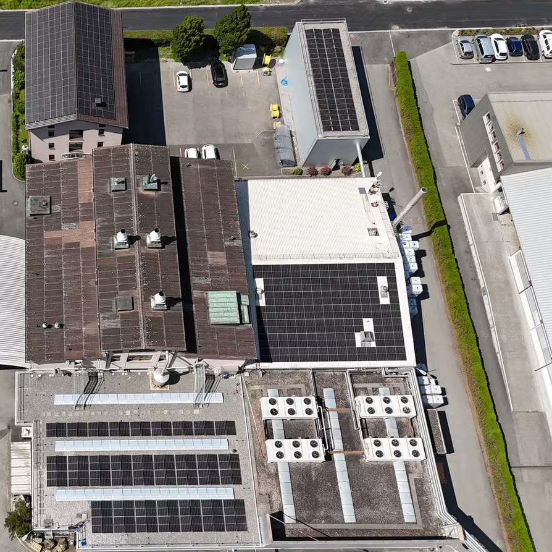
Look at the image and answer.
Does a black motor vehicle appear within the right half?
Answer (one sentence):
Yes, the scene does show a black motor vehicle within the right half.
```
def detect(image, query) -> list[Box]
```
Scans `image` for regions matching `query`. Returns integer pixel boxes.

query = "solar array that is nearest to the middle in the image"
[252,262,407,361]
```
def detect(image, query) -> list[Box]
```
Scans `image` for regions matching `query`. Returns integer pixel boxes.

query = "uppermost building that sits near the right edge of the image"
[459,92,552,200]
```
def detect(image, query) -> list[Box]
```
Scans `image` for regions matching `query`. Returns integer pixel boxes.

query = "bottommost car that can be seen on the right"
[454,94,475,120]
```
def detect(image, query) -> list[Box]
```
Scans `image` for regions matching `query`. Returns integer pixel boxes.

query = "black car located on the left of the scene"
[210,61,227,89]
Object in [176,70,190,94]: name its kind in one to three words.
car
